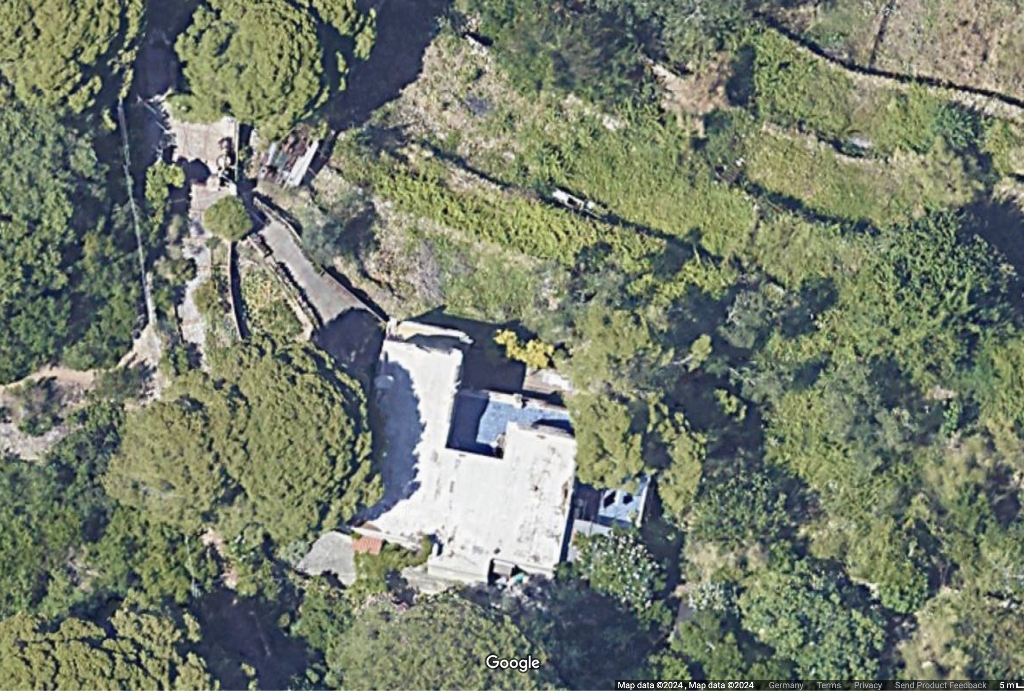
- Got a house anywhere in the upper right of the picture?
No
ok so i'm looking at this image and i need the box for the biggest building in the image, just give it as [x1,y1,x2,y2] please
[358,339,576,583]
